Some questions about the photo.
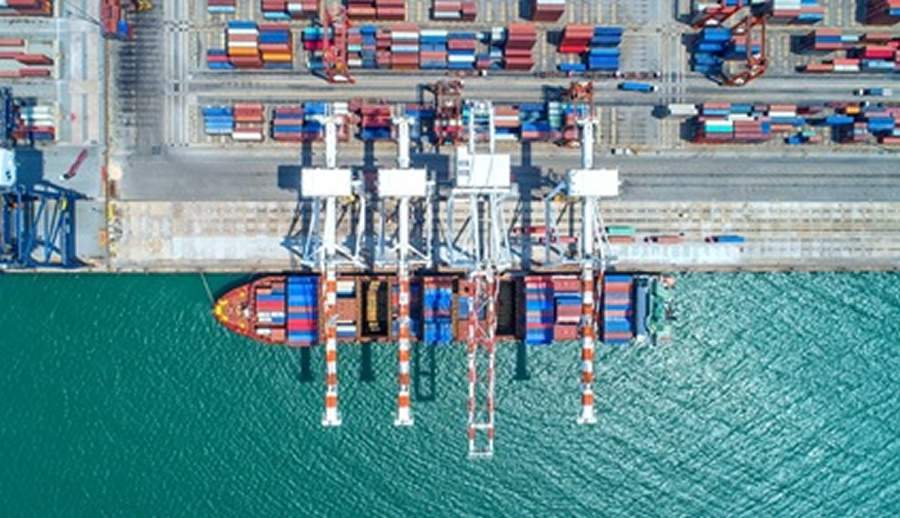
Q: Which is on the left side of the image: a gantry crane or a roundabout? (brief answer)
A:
gantry crane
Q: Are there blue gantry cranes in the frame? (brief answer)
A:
Yes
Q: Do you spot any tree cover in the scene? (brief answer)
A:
No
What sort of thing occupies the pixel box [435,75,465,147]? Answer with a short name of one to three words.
container crane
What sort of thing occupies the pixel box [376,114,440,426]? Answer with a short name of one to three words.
container crane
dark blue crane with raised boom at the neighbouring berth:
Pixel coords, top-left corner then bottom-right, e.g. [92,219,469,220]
[0,85,99,277]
